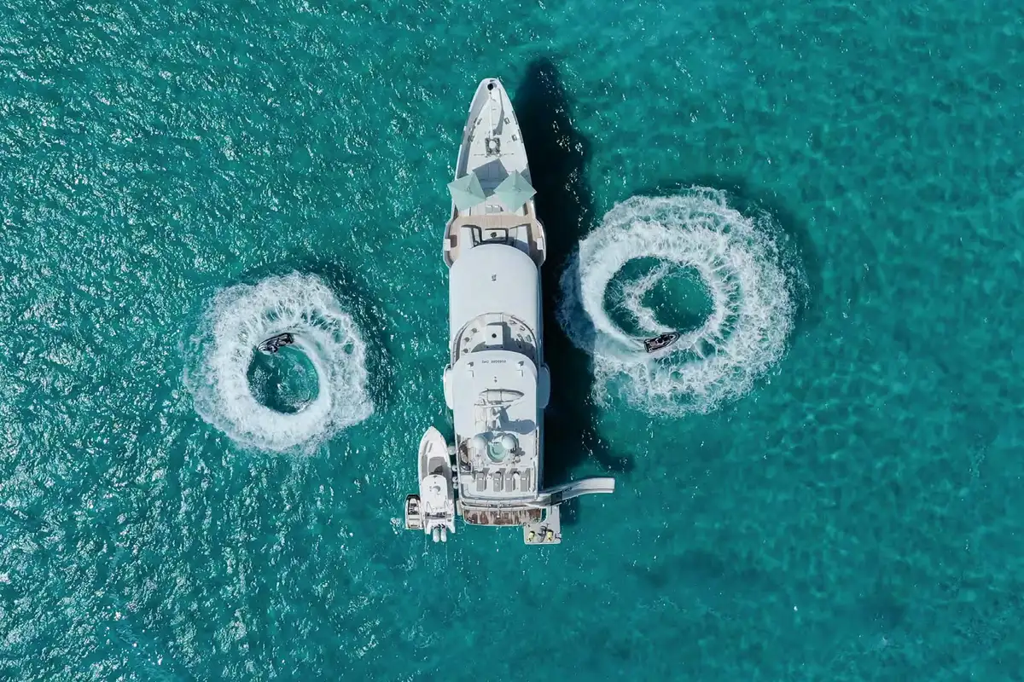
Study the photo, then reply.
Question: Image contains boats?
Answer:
Yes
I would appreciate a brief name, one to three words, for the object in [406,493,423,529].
boat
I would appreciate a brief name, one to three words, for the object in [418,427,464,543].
boat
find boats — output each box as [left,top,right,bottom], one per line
[418,427,464,543]
[406,493,423,529]
[256,335,294,353]
[443,78,550,525]
[643,334,679,353]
